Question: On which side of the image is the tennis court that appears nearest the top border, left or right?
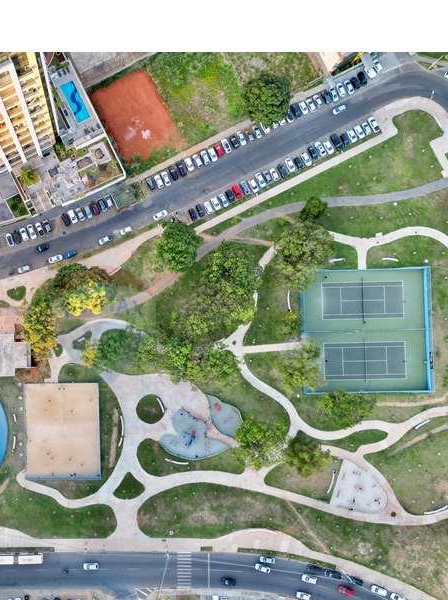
right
